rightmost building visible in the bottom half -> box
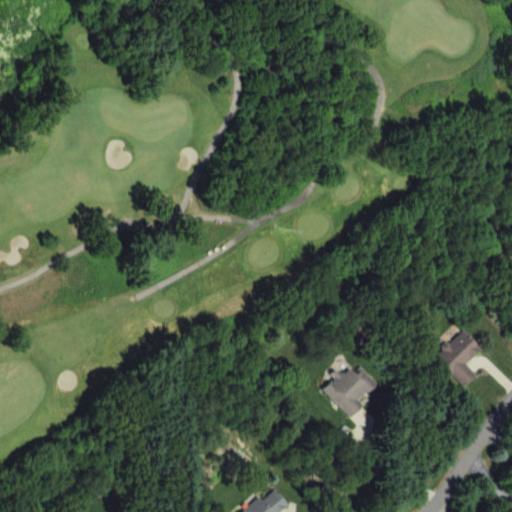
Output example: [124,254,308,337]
[439,325,484,387]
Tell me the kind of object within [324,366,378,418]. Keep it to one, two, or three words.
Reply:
house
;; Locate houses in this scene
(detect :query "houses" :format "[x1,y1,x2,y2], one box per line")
[243,489,293,512]
[439,325,484,387]
[324,366,378,418]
